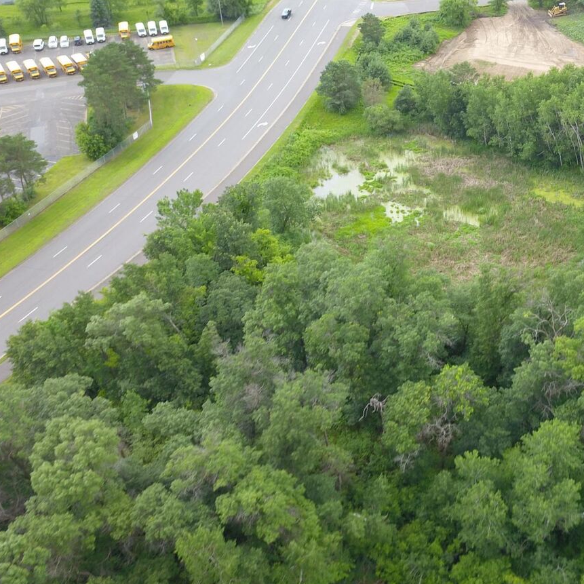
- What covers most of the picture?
trees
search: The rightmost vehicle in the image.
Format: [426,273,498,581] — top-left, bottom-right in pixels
[547,3,568,17]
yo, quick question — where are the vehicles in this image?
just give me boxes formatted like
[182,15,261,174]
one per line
[55,53,75,74]
[5,58,23,79]
[157,19,169,33]
[0,38,8,53]
[75,36,83,45]
[70,50,88,70]
[147,36,175,51]
[22,57,40,77]
[279,6,294,17]
[38,55,57,76]
[144,20,157,35]
[48,36,58,47]
[10,34,22,52]
[60,36,70,47]
[547,3,568,17]
[119,21,129,37]
[94,26,105,40]
[83,29,94,43]
[134,21,147,36]
[0,63,8,82]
